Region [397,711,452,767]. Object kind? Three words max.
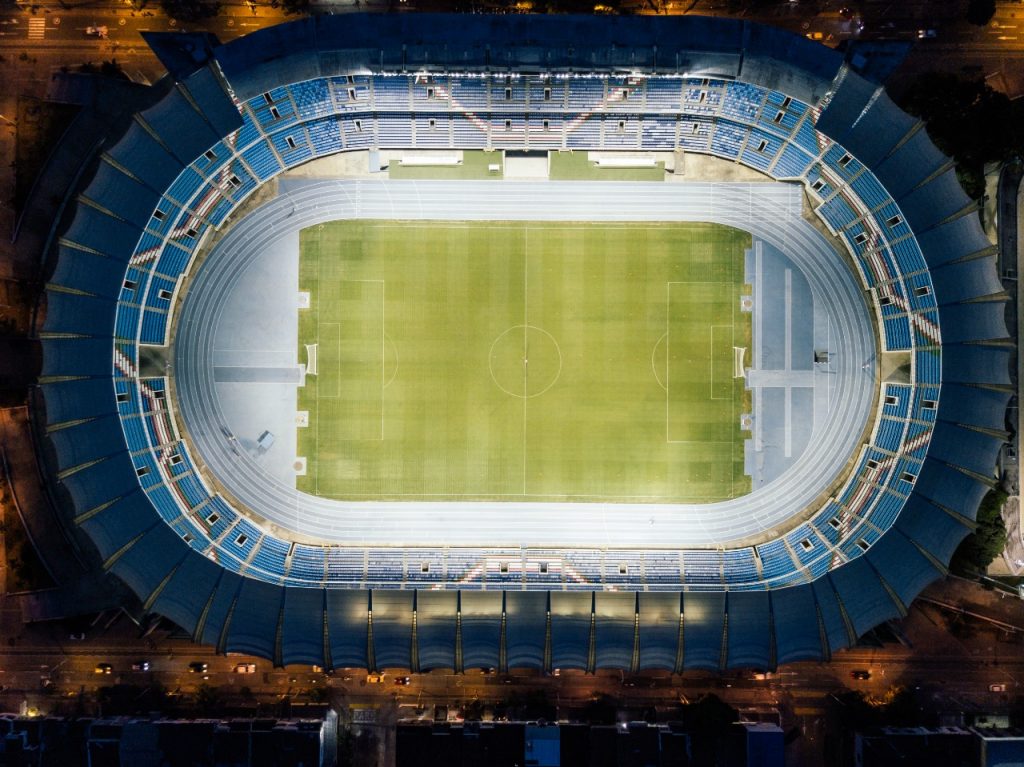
house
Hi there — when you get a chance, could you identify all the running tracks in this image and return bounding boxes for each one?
[174,180,875,543]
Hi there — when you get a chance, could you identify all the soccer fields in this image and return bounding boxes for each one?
[298,219,752,503]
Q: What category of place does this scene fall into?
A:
sports ground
